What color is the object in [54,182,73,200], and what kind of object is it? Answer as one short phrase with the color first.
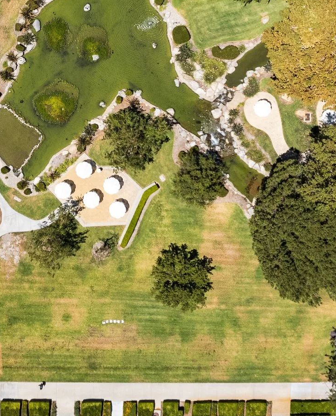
white umbrella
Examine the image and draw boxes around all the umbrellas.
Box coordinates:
[74,161,92,179]
[319,107,336,125]
[108,200,126,219]
[253,99,272,117]
[54,182,73,200]
[81,191,100,209]
[101,176,121,195]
